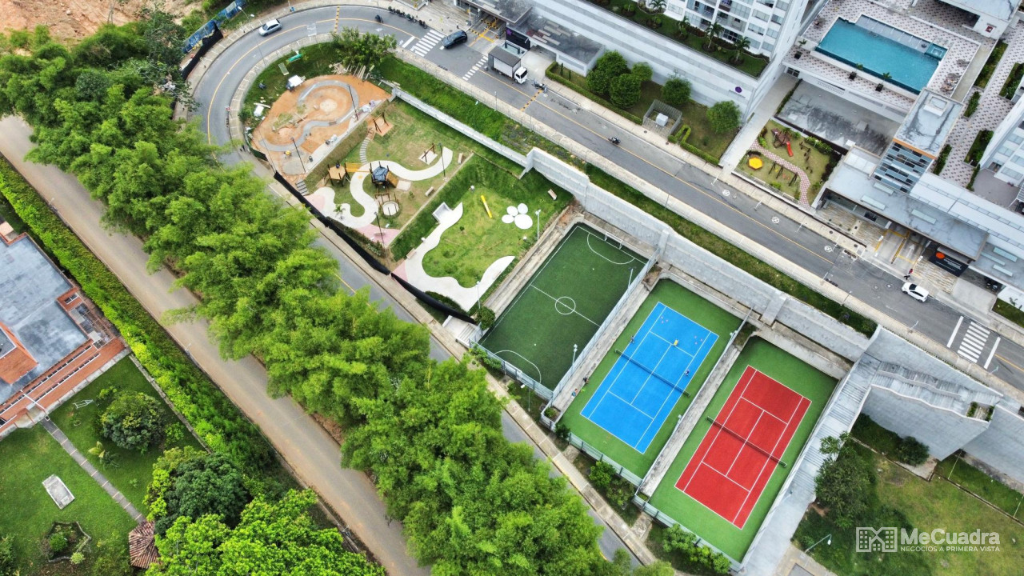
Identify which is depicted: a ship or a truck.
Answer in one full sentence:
Looking from above, you can make out a truck.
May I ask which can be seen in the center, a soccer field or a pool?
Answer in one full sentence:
There is a soccer field in the center.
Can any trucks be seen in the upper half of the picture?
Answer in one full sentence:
Yes, you'll find a truck in the upper half of the picture.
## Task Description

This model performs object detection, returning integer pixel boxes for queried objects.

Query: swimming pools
[815,14,947,94]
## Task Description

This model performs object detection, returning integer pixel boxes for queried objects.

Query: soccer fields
[481,225,649,404]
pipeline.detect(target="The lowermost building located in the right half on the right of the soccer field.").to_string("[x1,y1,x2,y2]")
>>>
[822,149,1024,321]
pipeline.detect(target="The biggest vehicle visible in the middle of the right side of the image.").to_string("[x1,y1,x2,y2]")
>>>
[902,282,932,301]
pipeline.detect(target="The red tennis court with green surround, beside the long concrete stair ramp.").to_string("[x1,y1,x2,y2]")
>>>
[644,338,839,571]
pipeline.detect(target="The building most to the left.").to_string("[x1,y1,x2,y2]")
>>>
[0,223,129,433]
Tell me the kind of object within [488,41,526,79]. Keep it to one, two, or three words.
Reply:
truck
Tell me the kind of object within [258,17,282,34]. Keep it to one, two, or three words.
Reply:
car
